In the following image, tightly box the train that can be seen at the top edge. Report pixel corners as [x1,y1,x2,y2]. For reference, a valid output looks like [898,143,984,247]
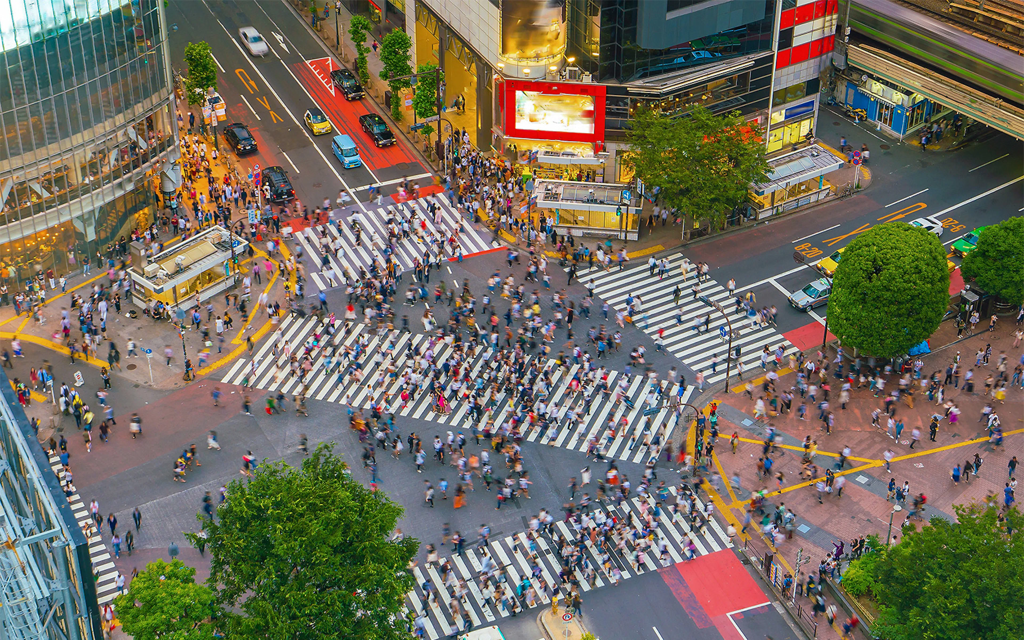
[837,0,1024,105]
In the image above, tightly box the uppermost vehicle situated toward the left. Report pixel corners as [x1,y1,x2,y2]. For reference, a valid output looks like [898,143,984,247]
[237,27,270,55]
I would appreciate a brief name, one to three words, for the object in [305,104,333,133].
car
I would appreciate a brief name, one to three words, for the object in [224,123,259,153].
car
